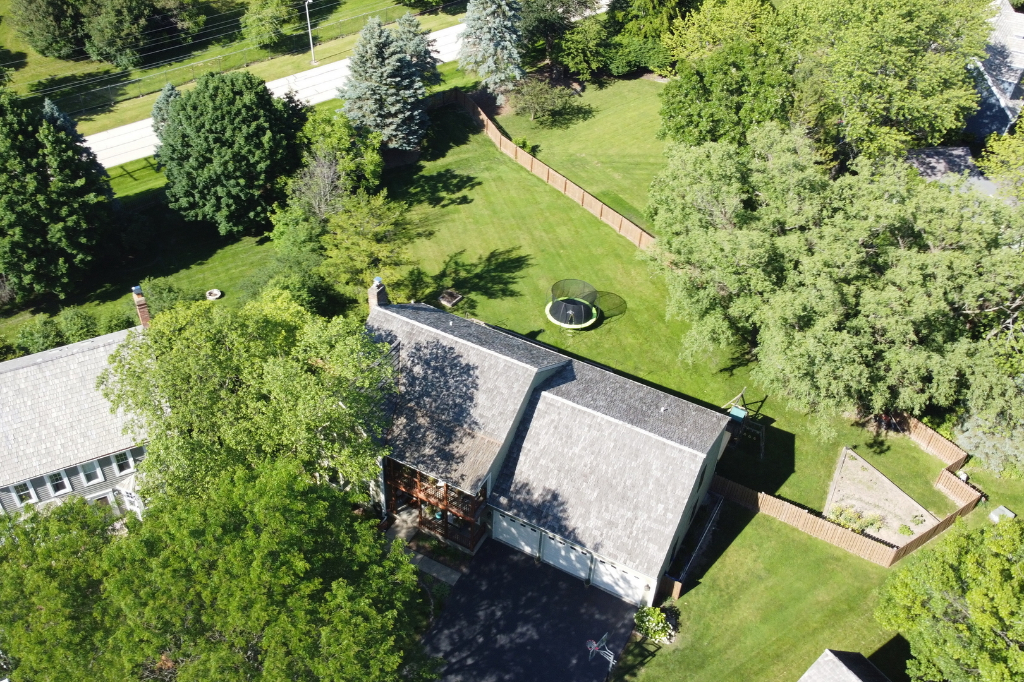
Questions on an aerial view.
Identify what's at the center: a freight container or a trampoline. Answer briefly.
trampoline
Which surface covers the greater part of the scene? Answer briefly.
trees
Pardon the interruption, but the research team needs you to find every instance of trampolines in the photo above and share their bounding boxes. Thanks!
[544,279,600,342]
